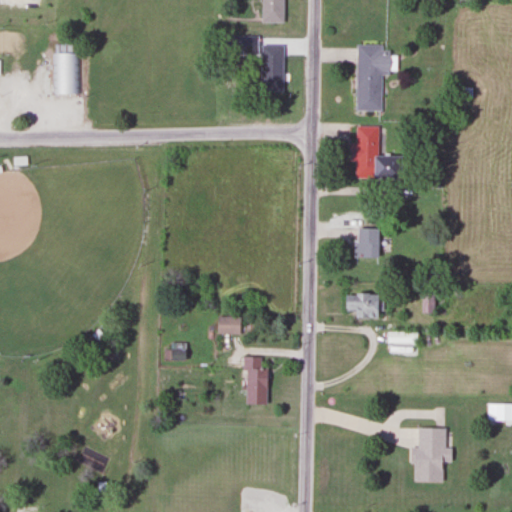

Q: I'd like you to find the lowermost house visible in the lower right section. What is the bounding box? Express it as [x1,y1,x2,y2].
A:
[408,428,454,484]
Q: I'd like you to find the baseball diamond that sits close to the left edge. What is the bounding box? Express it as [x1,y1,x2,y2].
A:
[0,159,145,358]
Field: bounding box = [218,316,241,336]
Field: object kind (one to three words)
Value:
building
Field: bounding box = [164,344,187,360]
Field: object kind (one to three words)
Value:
shed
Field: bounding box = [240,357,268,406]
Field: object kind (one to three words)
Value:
house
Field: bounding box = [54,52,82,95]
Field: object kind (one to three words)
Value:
barn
